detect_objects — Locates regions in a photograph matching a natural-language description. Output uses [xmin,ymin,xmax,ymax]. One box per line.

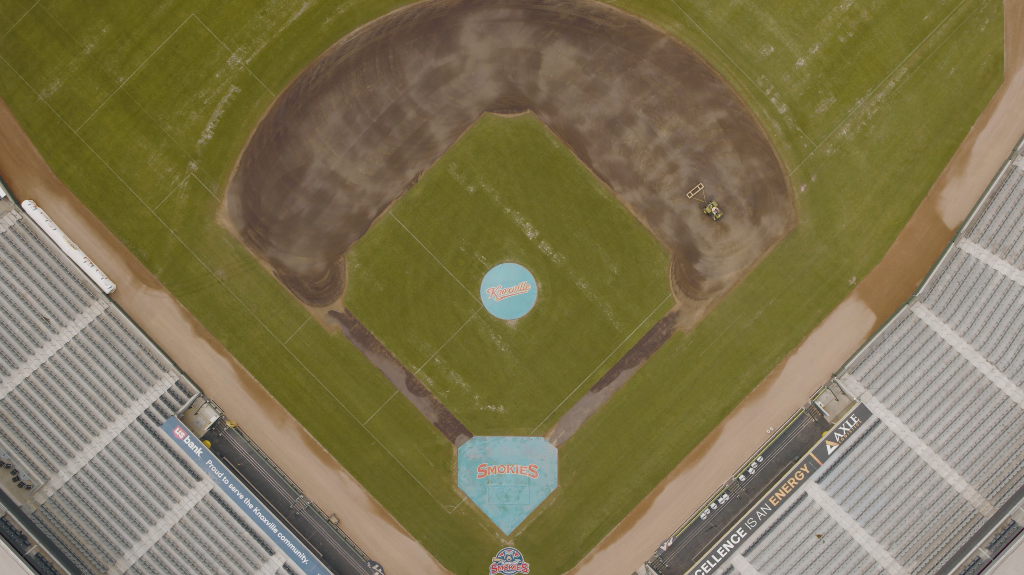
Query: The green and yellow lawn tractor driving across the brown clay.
[702,199,724,222]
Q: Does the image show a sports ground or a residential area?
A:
sports ground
